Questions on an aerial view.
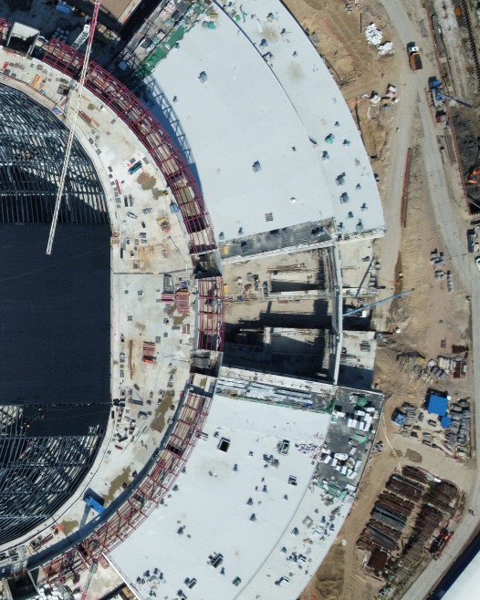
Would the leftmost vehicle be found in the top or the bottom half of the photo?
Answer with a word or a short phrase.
top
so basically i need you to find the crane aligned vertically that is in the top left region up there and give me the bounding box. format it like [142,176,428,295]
[47,0,98,253]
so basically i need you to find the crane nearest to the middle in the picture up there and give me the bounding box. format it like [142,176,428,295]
[340,290,412,323]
